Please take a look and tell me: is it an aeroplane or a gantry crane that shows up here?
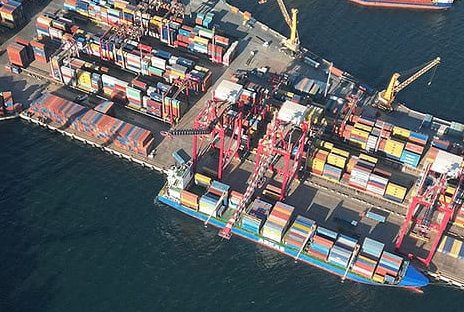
gantry crane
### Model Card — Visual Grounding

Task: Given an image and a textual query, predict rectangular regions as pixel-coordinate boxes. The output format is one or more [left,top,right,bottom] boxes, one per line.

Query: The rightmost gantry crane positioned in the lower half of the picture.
[392,142,464,263]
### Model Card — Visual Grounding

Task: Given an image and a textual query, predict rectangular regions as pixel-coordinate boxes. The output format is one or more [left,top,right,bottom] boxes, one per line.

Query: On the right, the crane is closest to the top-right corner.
[373,59,438,115]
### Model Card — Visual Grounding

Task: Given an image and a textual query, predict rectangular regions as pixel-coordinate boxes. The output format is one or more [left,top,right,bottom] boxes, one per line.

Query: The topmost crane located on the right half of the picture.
[277,0,305,55]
